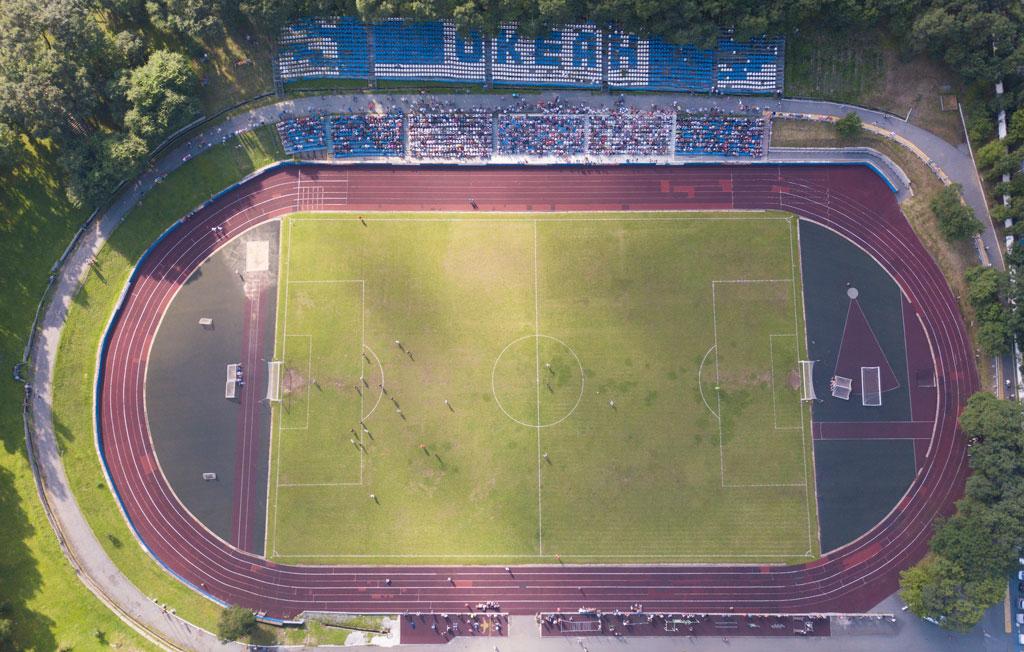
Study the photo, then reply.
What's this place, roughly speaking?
sports ground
